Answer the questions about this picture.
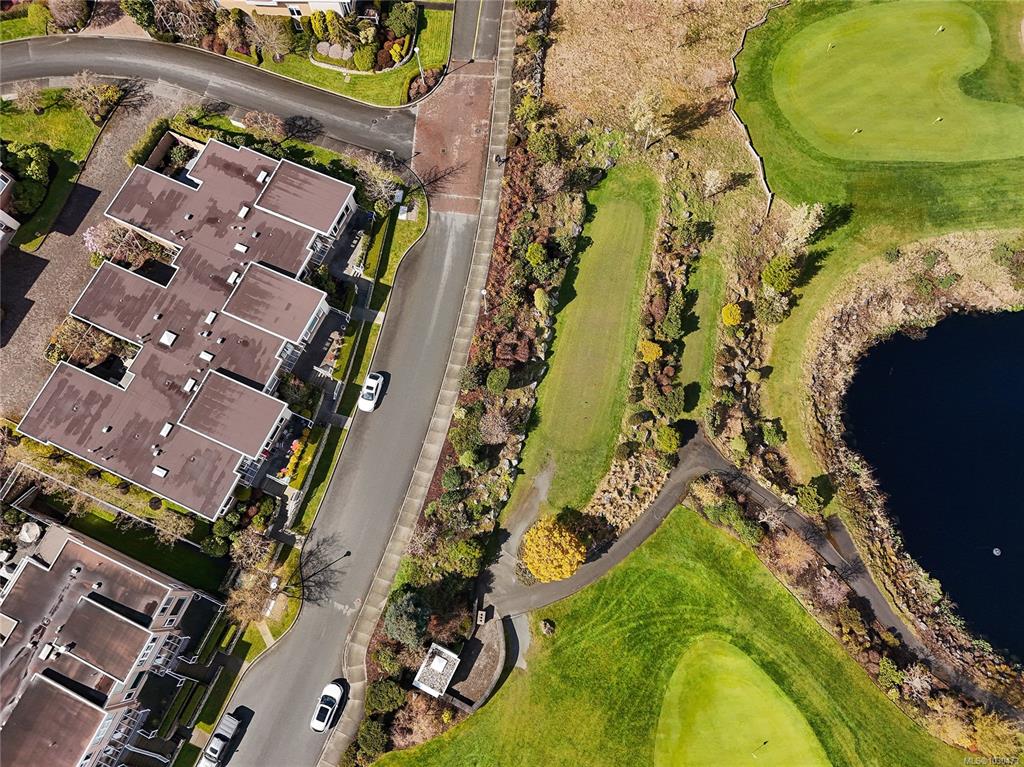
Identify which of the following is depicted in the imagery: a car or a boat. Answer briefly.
car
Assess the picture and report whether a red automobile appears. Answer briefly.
No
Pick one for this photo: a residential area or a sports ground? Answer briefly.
residential area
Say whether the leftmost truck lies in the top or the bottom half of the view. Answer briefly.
bottom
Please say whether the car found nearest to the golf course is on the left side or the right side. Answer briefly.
left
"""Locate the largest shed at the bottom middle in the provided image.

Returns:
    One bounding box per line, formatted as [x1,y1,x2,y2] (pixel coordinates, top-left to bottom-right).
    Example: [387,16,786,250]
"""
[410,640,461,700]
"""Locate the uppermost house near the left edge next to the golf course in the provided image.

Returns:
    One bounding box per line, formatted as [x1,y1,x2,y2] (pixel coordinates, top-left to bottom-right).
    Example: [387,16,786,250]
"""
[15,139,361,523]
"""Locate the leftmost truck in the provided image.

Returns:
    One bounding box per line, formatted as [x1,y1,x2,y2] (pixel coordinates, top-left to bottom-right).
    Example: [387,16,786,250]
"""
[192,712,239,767]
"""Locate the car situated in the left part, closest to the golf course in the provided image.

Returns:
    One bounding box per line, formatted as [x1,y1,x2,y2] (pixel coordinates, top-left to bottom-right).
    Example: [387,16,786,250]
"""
[308,681,346,736]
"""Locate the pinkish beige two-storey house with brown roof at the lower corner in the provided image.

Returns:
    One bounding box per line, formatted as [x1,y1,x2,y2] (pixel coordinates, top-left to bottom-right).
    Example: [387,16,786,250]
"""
[0,532,195,767]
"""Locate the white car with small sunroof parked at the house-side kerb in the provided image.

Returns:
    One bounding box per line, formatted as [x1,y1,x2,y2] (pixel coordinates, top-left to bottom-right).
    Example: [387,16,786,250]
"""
[358,370,383,411]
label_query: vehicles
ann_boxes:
[358,370,383,411]
[192,712,239,767]
[308,681,346,736]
